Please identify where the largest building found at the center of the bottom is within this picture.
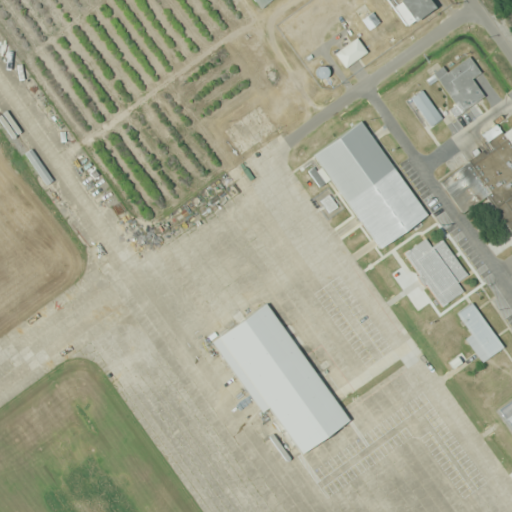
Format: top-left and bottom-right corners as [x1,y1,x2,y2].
[214,304,350,454]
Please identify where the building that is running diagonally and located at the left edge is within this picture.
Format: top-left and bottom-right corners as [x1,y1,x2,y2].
[26,148,54,185]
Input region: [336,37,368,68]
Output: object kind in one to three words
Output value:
house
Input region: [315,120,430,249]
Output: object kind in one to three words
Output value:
hangar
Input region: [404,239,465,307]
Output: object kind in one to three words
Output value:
building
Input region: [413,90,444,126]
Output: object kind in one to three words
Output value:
building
